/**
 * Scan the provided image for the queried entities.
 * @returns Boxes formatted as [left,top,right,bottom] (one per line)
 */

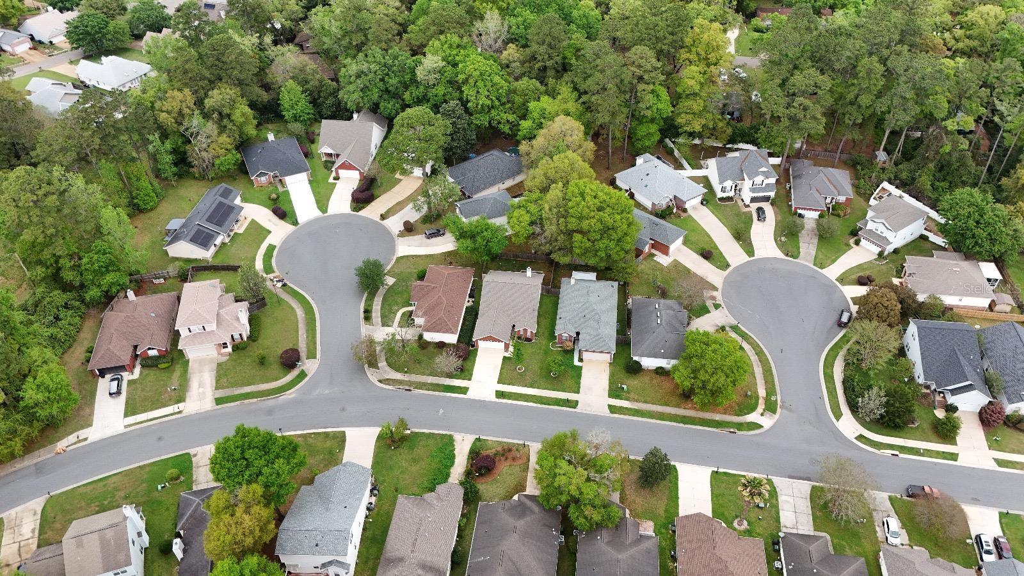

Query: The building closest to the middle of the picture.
[473,265,547,352]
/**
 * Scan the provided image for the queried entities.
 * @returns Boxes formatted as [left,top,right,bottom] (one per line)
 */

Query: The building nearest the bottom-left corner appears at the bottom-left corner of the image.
[21,501,151,576]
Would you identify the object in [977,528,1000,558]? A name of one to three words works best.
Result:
car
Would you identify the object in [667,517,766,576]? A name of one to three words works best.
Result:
house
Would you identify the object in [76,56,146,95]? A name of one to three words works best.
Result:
house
